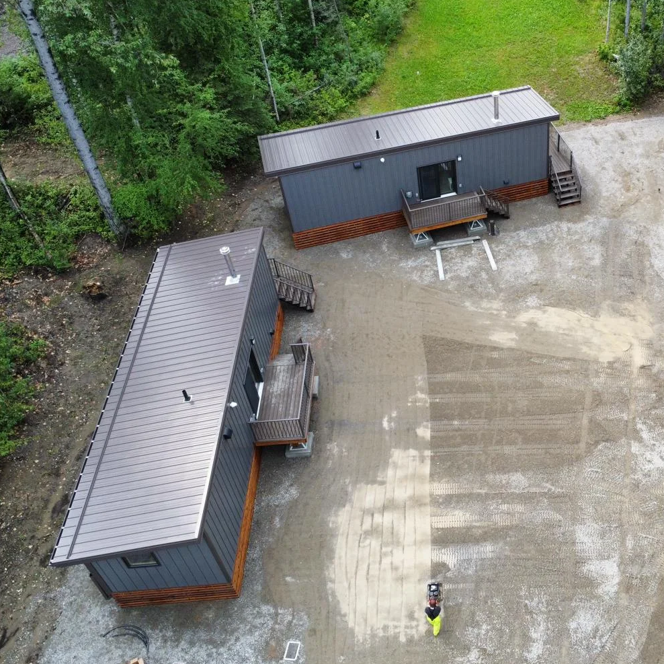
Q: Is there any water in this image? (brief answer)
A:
No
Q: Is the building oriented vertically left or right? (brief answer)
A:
left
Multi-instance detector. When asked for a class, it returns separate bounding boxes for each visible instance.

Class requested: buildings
[257,86,561,248]
[46,228,284,609]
